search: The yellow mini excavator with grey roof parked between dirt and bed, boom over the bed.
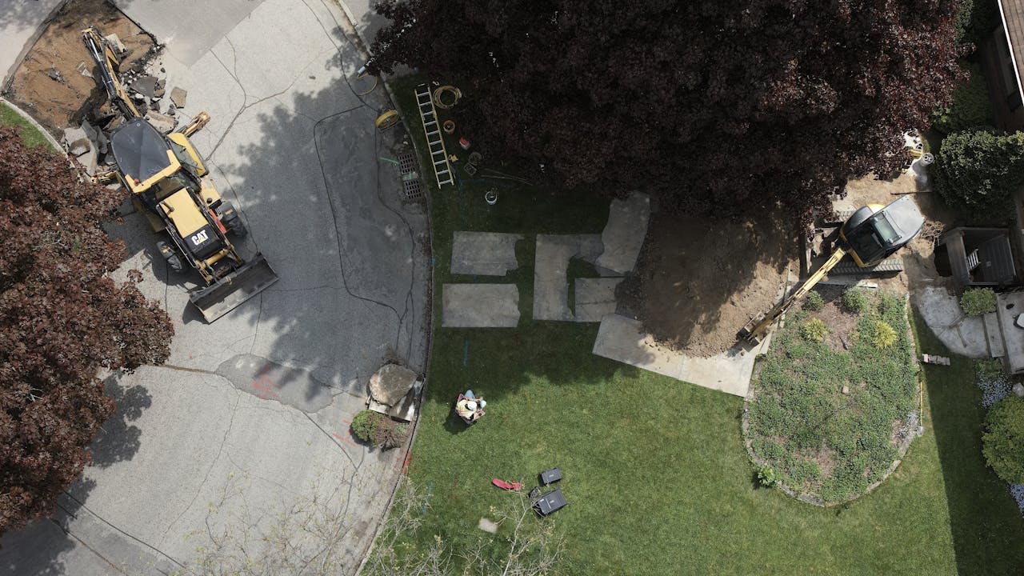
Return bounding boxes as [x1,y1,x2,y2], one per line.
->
[728,195,925,360]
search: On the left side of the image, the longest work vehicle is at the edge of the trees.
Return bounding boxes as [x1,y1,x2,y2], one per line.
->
[78,24,278,324]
